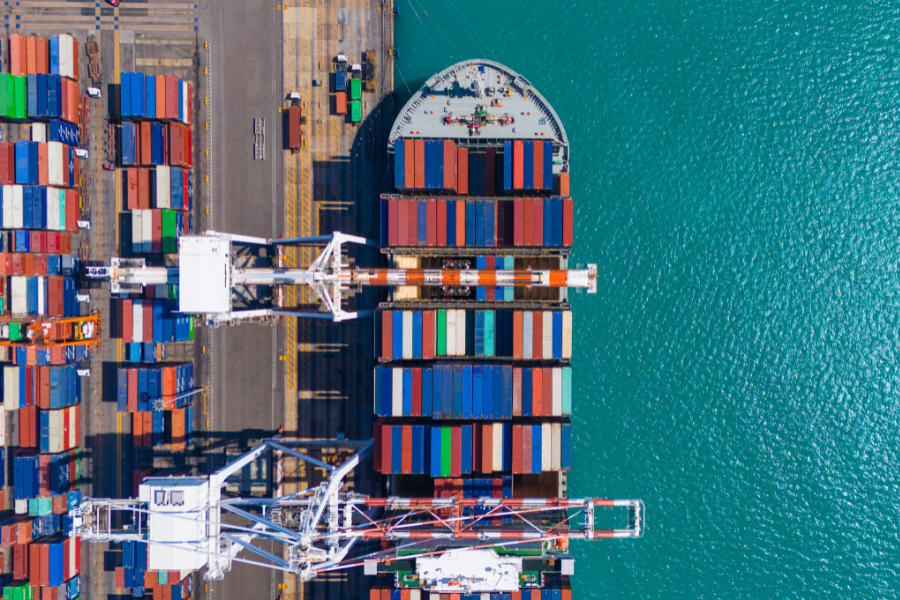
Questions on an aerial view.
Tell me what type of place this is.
port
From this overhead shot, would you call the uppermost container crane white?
Yes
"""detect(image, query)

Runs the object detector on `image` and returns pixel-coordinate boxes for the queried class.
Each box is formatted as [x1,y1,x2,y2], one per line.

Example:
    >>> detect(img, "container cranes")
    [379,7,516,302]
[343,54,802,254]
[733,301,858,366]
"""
[70,418,647,583]
[83,232,598,330]
[0,309,99,352]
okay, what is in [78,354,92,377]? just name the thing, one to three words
vehicle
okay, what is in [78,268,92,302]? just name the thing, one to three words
vehicle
